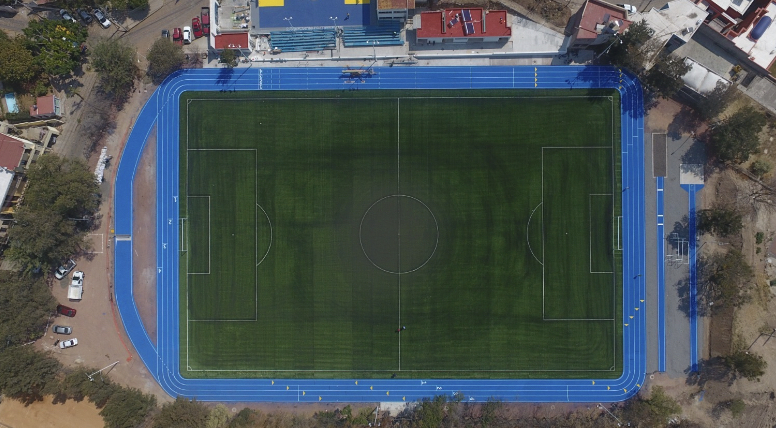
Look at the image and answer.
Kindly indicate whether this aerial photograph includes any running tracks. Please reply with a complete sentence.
Yes, I can see a running track in this picture.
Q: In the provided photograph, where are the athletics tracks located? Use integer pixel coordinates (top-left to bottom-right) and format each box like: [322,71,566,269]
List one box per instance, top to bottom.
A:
[114,64,646,403]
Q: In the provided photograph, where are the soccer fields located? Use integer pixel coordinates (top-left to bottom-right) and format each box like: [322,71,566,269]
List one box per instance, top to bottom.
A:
[179,87,623,380]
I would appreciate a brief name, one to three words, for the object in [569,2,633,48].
building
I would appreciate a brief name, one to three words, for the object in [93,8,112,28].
car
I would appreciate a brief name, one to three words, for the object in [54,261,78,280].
vehicle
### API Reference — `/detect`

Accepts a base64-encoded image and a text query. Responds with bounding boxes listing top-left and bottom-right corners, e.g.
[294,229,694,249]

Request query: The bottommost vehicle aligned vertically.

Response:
[67,271,83,302]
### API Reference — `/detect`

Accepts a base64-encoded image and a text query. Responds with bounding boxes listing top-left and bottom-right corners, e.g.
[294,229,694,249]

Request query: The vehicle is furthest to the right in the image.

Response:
[618,1,640,14]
